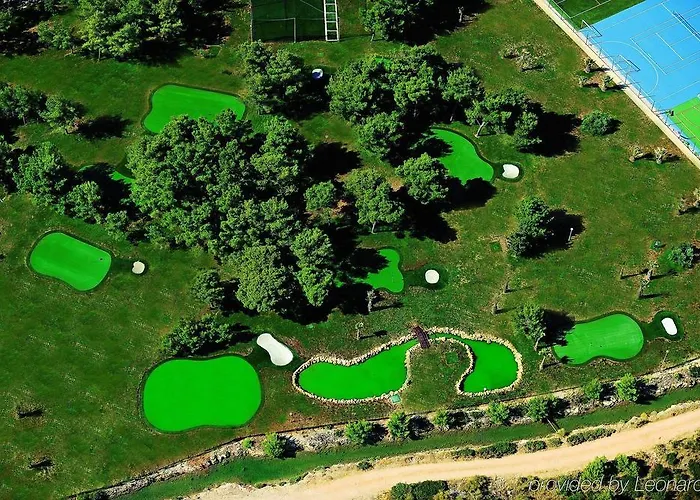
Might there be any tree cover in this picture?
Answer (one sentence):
Yes, tree cover shows up in the scene.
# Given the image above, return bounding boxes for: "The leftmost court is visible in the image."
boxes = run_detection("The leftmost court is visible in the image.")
[247,0,339,42]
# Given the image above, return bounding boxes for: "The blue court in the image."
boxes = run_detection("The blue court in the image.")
[578,0,700,155]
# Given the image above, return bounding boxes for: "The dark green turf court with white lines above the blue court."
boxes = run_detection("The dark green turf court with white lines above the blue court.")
[550,0,647,29]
